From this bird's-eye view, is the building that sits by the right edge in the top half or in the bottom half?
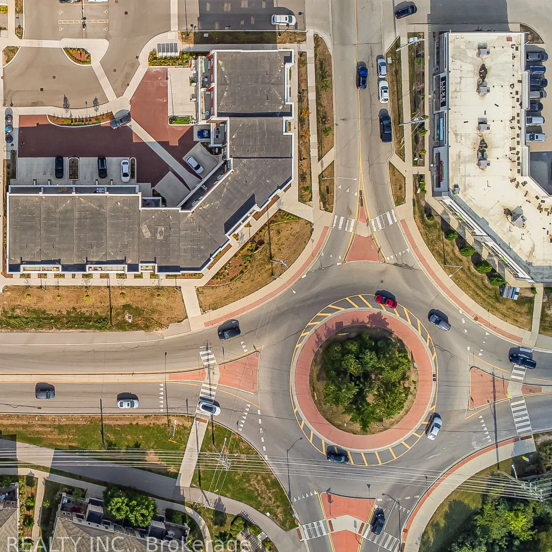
top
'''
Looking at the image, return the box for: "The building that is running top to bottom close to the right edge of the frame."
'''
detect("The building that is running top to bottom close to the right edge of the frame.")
[432,34,552,283]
